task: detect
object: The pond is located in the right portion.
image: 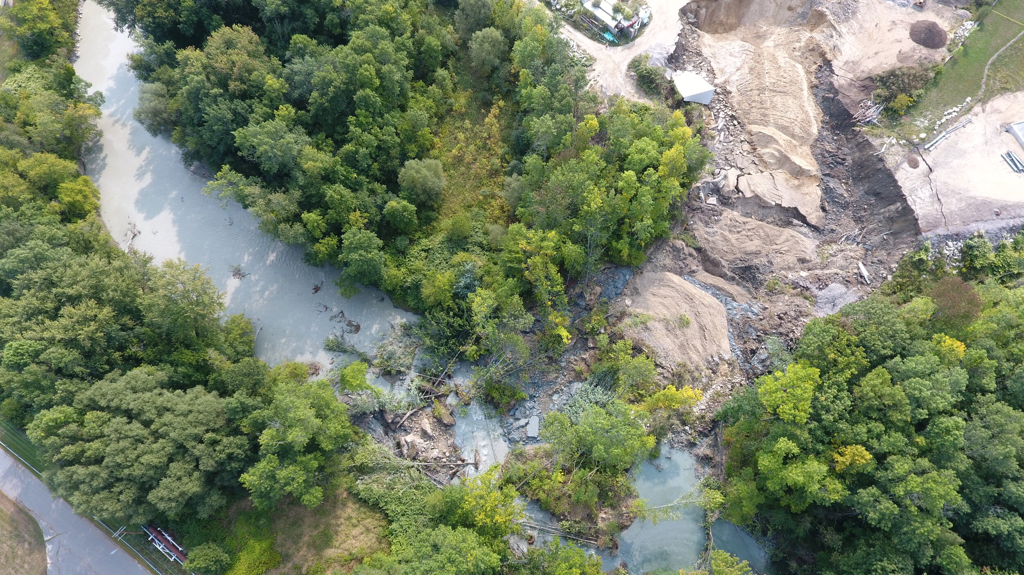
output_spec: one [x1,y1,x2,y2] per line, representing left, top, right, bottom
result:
[614,437,776,575]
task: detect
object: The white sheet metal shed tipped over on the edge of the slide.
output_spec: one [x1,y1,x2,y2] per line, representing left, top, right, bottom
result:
[671,68,715,104]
